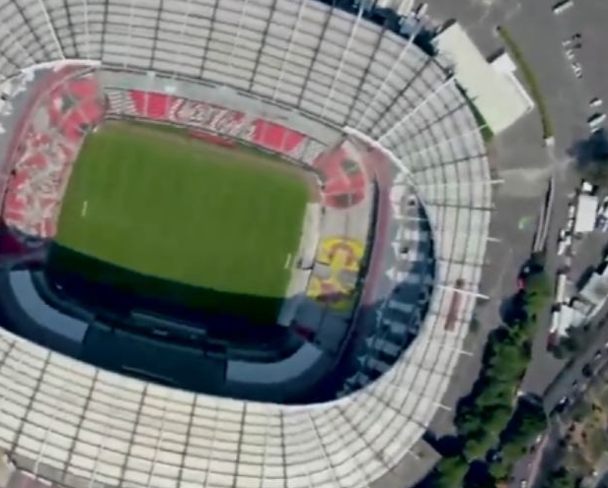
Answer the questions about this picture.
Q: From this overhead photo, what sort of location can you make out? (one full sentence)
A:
What you see here is a sports ground.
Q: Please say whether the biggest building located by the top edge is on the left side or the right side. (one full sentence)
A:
The biggest building located by the top edge appears in the right half of the scene.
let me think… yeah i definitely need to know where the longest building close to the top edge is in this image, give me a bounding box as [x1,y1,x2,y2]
[427,21,537,137]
